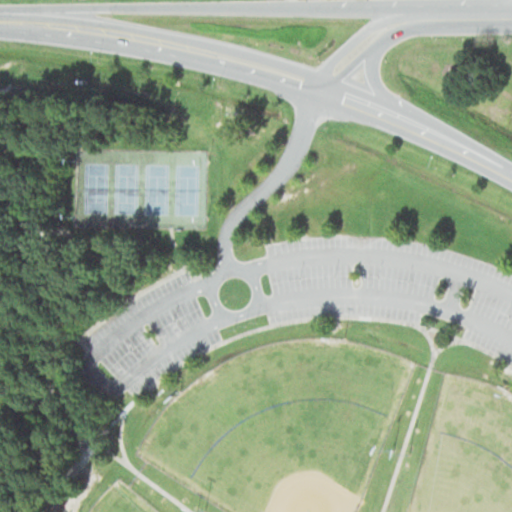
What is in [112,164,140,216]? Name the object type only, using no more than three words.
tennis court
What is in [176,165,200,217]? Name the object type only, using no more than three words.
tennis court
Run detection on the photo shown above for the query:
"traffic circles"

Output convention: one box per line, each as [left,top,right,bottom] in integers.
[208,266,263,322]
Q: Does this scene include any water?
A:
No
